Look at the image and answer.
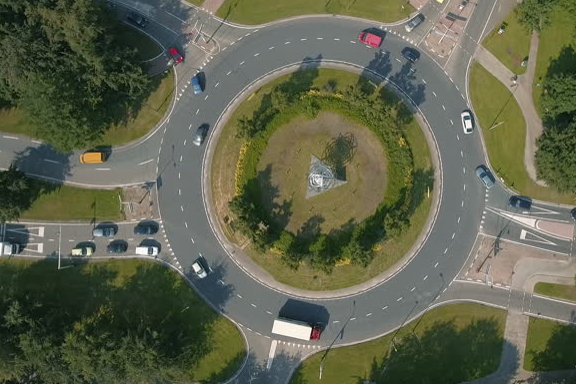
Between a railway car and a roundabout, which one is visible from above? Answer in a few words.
roundabout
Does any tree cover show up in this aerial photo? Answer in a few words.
Yes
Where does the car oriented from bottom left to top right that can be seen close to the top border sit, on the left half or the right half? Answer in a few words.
right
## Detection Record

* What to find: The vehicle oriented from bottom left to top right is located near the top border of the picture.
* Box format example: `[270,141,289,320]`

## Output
[403,12,425,32]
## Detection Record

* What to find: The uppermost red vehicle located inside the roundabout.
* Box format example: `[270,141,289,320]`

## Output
[359,32,383,46]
